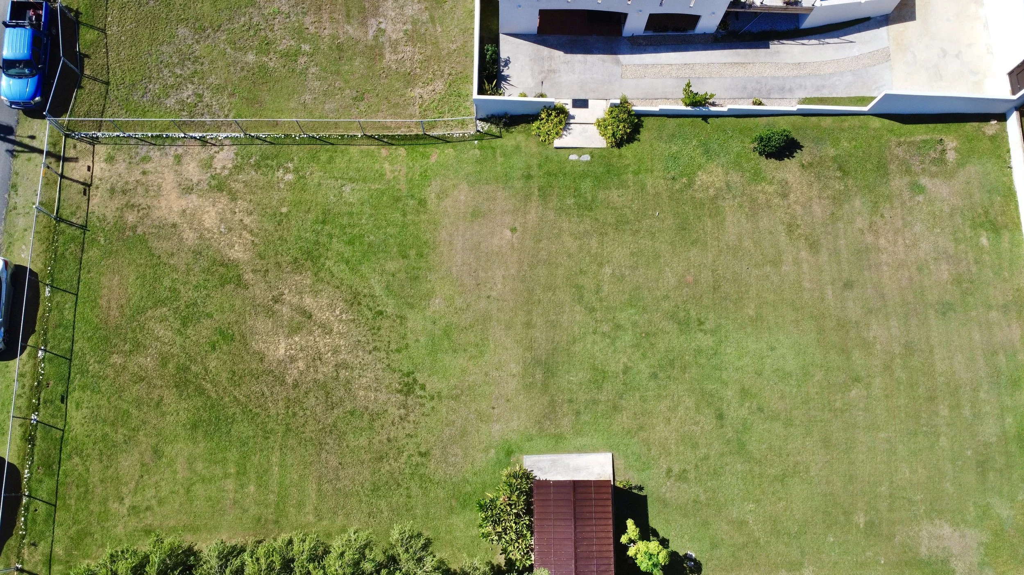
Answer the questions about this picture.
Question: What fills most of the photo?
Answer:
grass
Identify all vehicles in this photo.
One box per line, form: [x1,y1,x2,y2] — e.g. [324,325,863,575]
[0,0,62,111]
[0,258,20,351]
